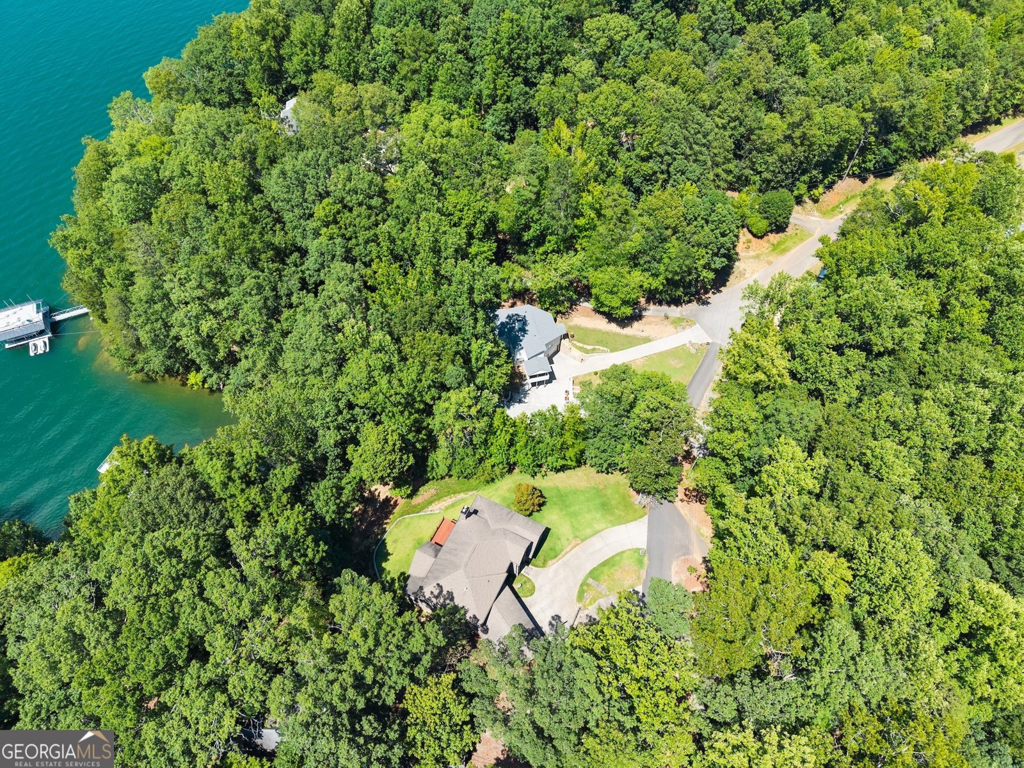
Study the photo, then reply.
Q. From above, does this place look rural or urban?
rural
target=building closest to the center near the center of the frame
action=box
[494,305,567,395]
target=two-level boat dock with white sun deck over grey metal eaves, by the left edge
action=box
[0,299,52,348]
